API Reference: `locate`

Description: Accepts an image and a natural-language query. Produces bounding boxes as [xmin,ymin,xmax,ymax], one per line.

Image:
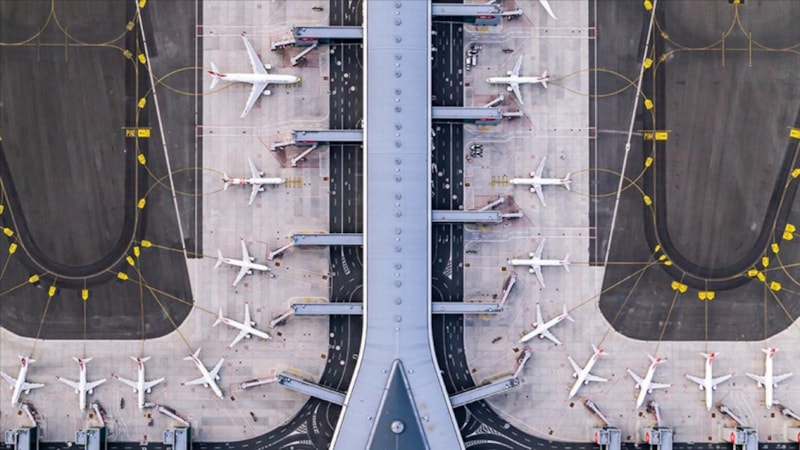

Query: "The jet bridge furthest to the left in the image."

[20,402,42,427]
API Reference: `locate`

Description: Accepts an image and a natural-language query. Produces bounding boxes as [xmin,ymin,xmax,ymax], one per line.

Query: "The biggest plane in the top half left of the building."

[202,28,301,120]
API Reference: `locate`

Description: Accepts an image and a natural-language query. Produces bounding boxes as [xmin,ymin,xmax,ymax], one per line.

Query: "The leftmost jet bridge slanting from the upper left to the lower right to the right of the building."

[583,398,609,426]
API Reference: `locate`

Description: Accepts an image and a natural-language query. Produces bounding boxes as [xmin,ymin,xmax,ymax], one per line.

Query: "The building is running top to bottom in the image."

[329,0,466,450]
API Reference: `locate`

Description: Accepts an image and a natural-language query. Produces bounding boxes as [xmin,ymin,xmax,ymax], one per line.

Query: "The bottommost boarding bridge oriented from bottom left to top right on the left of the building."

[269,311,292,330]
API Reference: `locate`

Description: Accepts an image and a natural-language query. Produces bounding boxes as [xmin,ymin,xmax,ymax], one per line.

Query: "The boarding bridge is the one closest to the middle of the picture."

[477,198,505,210]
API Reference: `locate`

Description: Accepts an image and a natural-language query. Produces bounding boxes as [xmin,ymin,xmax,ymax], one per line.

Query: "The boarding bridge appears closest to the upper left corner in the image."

[270,38,297,55]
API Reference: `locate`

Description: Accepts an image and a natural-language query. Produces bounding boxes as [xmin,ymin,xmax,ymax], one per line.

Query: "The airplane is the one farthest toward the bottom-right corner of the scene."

[746,348,798,407]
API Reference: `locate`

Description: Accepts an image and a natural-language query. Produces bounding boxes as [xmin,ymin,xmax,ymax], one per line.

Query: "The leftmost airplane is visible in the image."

[0,355,44,406]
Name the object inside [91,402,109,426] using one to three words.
jet bridge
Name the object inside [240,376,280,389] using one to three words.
jet bridge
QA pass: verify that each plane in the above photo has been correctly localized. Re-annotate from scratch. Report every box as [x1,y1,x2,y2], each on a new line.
[629,353,677,407]
[52,357,106,412]
[214,238,271,287]
[746,348,798,407]
[177,345,223,398]
[685,352,738,409]
[520,301,578,346]
[202,28,301,120]
[486,52,551,105]
[507,238,571,290]
[509,155,572,207]
[223,155,285,207]
[112,356,165,411]
[567,344,614,398]
[212,301,272,348]
[0,355,44,406]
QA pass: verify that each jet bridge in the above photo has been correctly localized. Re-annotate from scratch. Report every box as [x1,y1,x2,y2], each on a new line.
[477,198,505,210]
[501,211,524,219]
[144,402,193,426]
[268,243,295,260]
[646,401,662,426]
[91,402,109,426]
[269,142,297,153]
[482,95,505,106]
[498,274,516,308]
[715,405,745,427]
[269,311,292,330]
[500,111,523,120]
[270,38,297,55]
[20,402,42,427]
[240,376,280,389]
[513,349,530,378]
[290,144,318,167]
[583,398,609,426]
[290,44,317,68]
